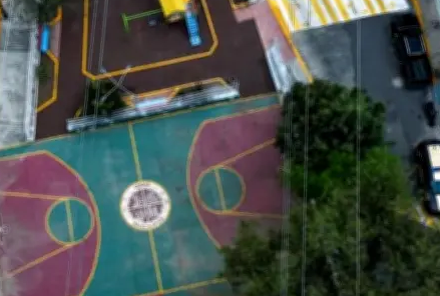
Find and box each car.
[389,15,432,87]
[412,141,440,212]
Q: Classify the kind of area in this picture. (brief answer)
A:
sports ground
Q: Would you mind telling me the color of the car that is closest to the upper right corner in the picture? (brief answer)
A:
black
